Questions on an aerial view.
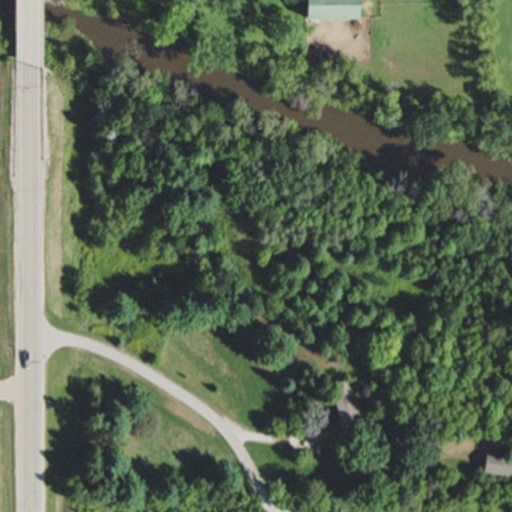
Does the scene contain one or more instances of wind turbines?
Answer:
No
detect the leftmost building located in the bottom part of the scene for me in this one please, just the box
[331,382,360,424]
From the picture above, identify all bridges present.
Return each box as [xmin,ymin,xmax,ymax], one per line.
[16,0,48,69]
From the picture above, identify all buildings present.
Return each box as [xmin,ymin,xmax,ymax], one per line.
[309,0,362,19]
[331,382,360,424]
[484,453,512,475]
